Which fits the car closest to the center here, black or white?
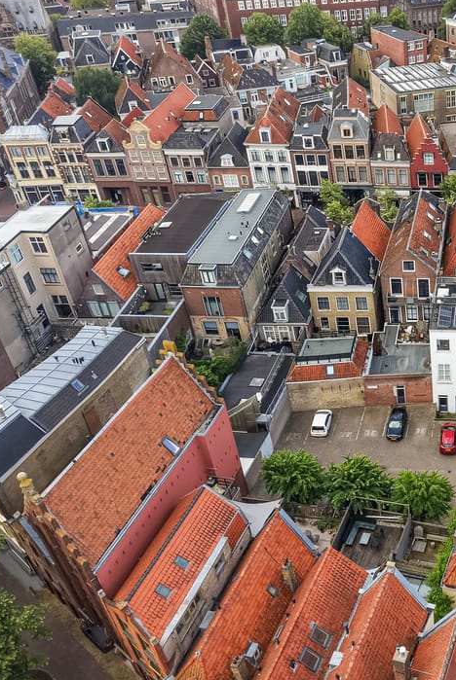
white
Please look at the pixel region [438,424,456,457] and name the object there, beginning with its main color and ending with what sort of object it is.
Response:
red car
